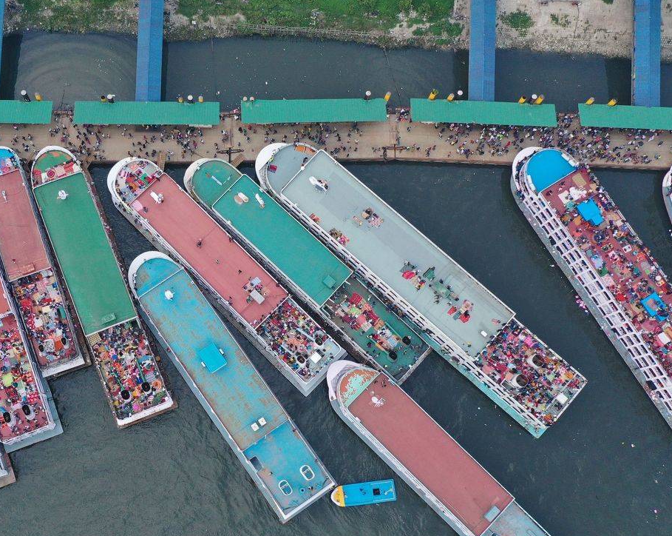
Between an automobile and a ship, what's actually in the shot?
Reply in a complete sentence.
It is a ship that can be seen here.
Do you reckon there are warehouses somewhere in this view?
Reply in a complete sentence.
No, the scene contains no warehouse.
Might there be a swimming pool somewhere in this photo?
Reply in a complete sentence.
No, no swimming pool is visible in the view.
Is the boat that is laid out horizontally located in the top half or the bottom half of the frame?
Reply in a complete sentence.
Seen from above, the boat that is laid out horizontally lies in the bottom half of the view.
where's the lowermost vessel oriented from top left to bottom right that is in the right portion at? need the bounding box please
[321,355,556,536]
